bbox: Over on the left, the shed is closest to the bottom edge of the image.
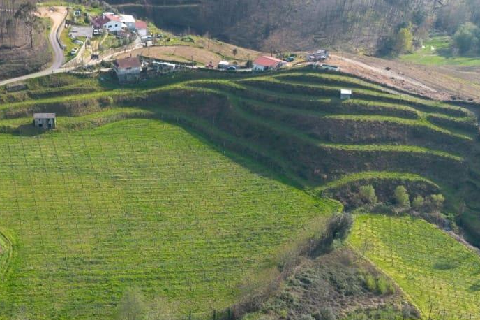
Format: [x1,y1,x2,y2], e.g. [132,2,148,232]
[34,111,58,130]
